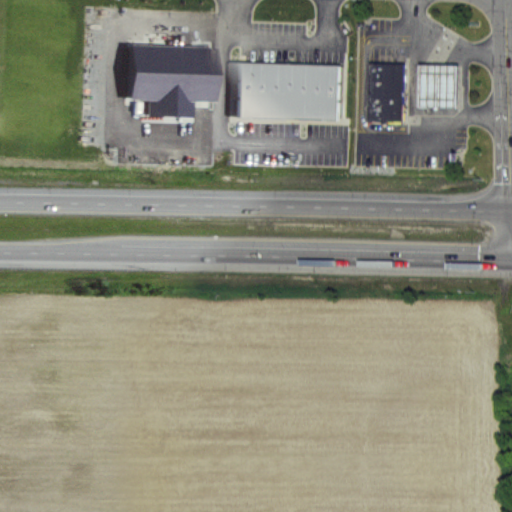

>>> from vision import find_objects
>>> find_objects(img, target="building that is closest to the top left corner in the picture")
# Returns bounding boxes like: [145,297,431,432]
[128,46,222,116]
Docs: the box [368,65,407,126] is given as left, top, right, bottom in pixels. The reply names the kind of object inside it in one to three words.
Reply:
building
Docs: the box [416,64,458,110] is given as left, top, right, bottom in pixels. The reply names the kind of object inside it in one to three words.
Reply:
building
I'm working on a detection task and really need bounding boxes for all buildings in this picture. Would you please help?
[416,64,458,110]
[234,63,342,120]
[128,46,222,116]
[368,65,407,126]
